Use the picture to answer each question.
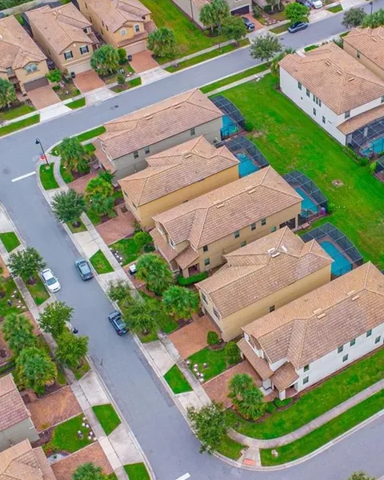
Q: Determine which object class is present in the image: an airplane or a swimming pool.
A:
swimming pool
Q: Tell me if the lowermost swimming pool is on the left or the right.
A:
right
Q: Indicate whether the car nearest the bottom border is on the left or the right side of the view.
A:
left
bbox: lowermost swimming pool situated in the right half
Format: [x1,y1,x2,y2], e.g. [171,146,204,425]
[328,251,352,277]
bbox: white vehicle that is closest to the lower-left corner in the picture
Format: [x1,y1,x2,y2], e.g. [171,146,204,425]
[41,267,64,294]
